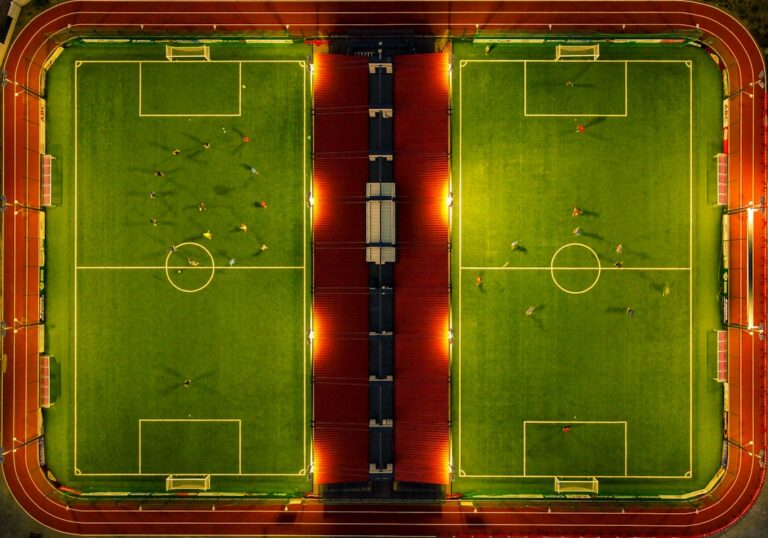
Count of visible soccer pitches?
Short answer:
2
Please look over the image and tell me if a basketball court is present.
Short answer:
No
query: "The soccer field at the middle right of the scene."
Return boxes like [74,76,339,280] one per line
[451,38,723,498]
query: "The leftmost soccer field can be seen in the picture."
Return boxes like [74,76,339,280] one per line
[44,38,313,498]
